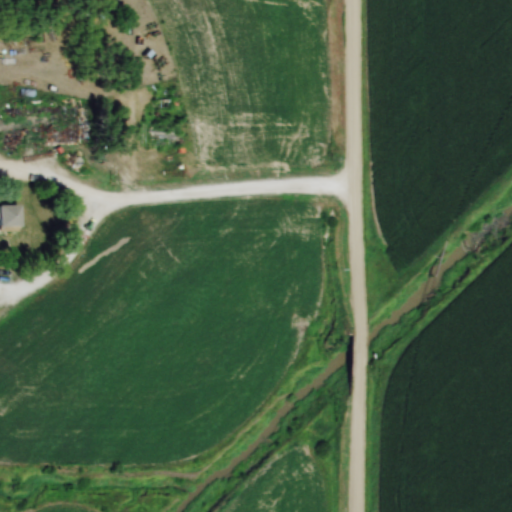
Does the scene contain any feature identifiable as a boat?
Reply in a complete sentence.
No, the frame has no boat in it.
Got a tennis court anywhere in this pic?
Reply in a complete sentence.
No, this view has no tennis court in it.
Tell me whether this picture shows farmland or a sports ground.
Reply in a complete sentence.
This image shows farmland.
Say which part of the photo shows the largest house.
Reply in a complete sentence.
The largest house sits in the left section of the image.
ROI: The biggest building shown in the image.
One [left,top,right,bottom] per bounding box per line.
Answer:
[1,205,24,232]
